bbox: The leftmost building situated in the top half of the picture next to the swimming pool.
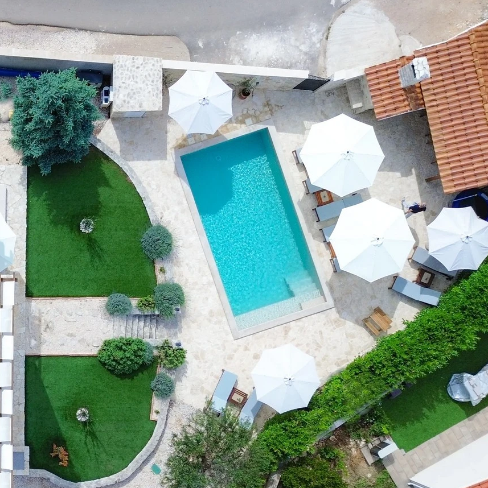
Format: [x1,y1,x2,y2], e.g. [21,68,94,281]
[108,57,162,124]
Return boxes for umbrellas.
[329,196,416,284]
[299,111,387,199]
[419,206,488,272]
[0,216,20,270]
[169,69,234,135]
[254,347,319,411]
